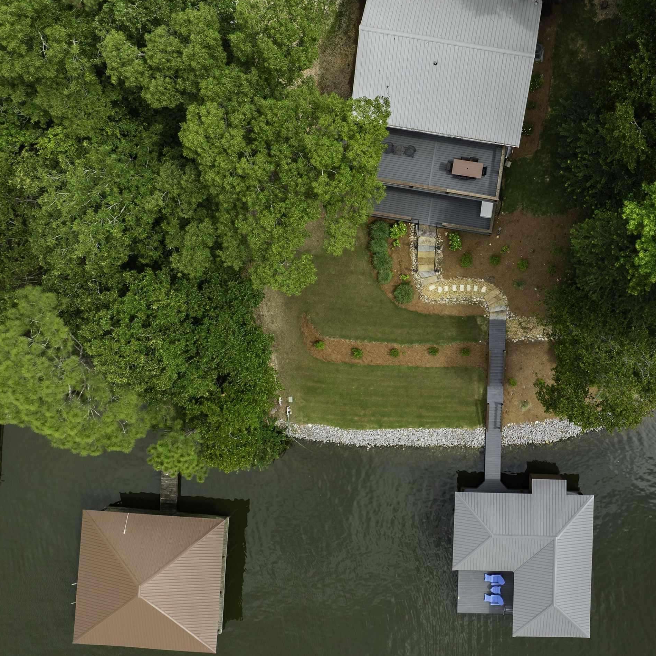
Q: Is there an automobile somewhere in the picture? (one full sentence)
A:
No, the photo shows no automobile.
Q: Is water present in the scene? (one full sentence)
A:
Yes, there is water in the image.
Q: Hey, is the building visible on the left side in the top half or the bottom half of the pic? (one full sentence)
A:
Seen from above, the building visible on the left side lies in the bottom half of the view.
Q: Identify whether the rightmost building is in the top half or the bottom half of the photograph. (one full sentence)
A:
It is in the bottom half that the rightmost building appears.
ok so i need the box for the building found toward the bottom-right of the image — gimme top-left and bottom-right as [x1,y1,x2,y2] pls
[451,465,595,639]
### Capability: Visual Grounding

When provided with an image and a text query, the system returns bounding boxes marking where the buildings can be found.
[451,465,595,639]
[351,0,543,168]
[72,506,230,656]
